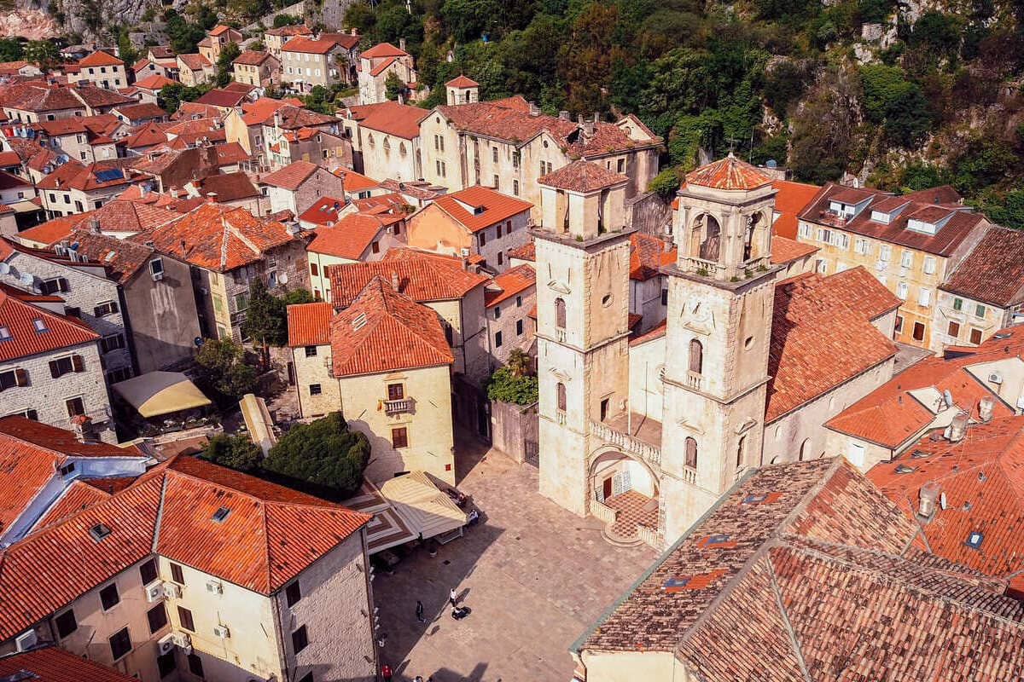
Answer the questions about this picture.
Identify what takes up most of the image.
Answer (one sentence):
The scene is dominated by buildings.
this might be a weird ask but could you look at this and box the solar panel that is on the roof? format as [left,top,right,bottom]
[89,165,129,183]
